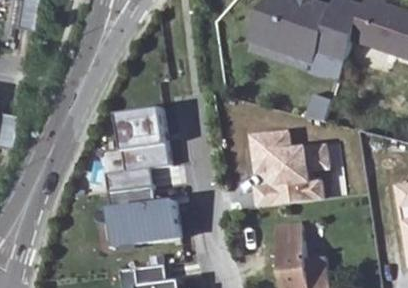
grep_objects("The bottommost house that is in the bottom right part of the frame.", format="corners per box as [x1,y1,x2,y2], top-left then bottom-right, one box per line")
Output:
[310,267,333,288]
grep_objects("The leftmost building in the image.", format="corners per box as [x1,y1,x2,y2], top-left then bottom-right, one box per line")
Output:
[0,114,18,148]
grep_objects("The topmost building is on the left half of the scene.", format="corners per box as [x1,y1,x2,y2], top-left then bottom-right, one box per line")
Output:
[12,0,40,30]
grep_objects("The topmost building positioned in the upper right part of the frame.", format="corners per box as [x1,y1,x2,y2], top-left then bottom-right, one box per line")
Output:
[247,0,408,79]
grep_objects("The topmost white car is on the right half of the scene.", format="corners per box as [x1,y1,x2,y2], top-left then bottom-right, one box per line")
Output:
[238,172,262,190]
